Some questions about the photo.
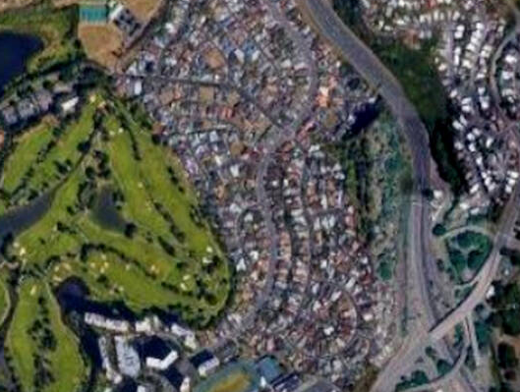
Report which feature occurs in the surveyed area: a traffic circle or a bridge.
bridge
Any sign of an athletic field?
Yes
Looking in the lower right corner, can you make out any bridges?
Yes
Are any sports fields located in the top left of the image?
Yes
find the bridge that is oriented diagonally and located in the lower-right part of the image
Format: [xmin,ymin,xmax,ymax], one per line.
[413,248,505,353]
